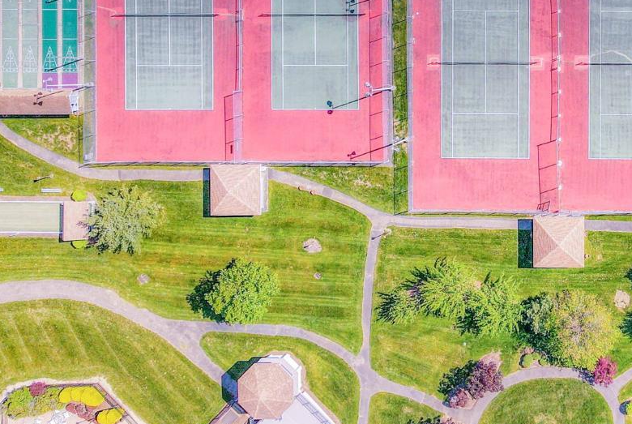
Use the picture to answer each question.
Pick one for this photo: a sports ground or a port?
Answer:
sports ground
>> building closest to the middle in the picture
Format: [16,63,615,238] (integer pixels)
[209,163,267,217]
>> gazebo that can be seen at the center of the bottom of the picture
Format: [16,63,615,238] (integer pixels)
[239,354,299,418]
